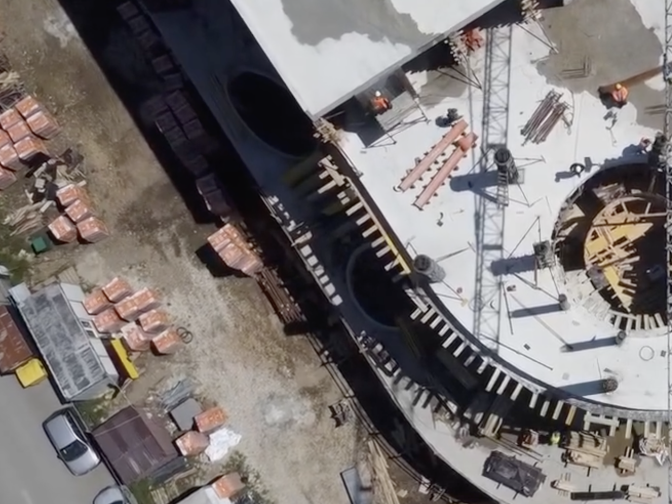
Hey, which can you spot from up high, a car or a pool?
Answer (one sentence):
There is a car in the scene.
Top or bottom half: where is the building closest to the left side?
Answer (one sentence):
The bottom half of the photo is where the building closest to the left side is.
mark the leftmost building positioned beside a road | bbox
[16,279,127,401]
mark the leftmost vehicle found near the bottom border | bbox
[41,404,105,481]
